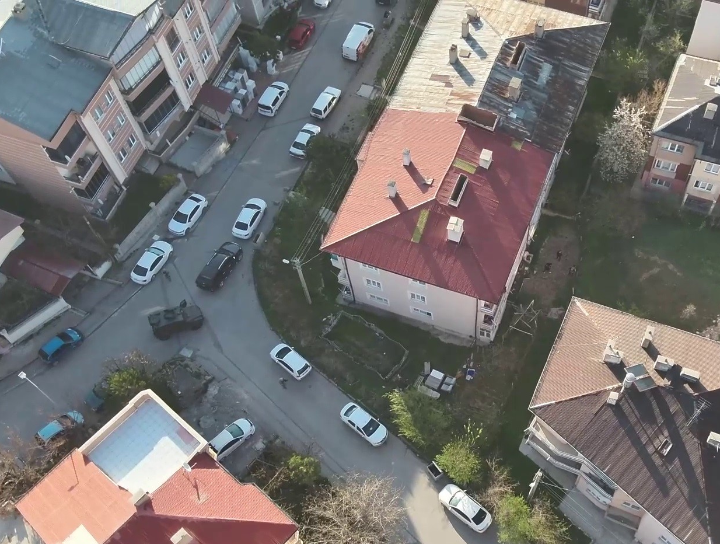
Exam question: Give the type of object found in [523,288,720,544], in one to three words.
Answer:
house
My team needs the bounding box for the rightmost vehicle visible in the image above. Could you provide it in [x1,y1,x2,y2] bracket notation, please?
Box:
[438,485,493,535]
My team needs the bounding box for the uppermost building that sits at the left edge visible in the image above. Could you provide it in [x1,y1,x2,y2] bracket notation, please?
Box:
[0,0,259,225]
